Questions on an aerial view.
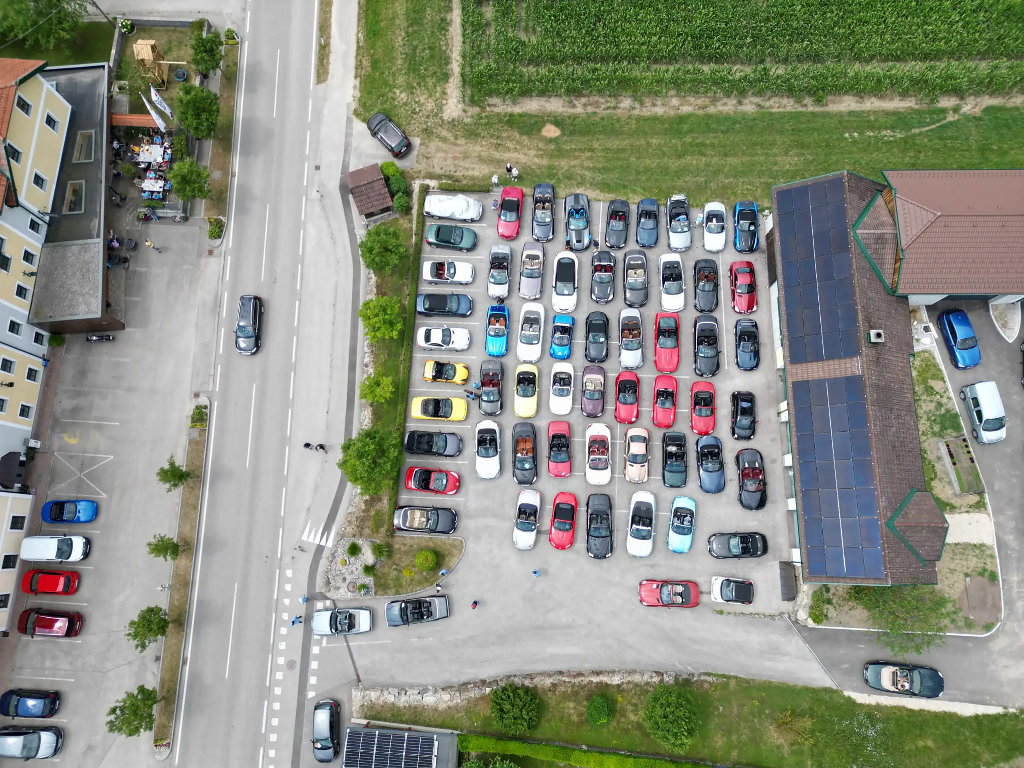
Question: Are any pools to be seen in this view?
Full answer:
No, there isn't any pool down there.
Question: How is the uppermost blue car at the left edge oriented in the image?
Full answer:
The uppermost blue car at the left edge is oriented horizontally.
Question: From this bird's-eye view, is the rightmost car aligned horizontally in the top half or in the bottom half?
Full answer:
It is in the bottom half that the rightmost car aligned horizontally appears.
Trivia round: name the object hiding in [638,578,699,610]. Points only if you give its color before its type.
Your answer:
red car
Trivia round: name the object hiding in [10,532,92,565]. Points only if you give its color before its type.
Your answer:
white van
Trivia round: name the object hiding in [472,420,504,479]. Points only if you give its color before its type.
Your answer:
white car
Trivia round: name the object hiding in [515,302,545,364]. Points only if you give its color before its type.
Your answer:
white car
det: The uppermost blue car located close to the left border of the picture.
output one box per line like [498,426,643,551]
[40,496,100,526]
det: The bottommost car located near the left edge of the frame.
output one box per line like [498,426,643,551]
[0,726,65,765]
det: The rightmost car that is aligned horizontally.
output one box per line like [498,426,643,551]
[863,661,944,701]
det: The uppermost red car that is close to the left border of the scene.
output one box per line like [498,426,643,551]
[21,570,81,602]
